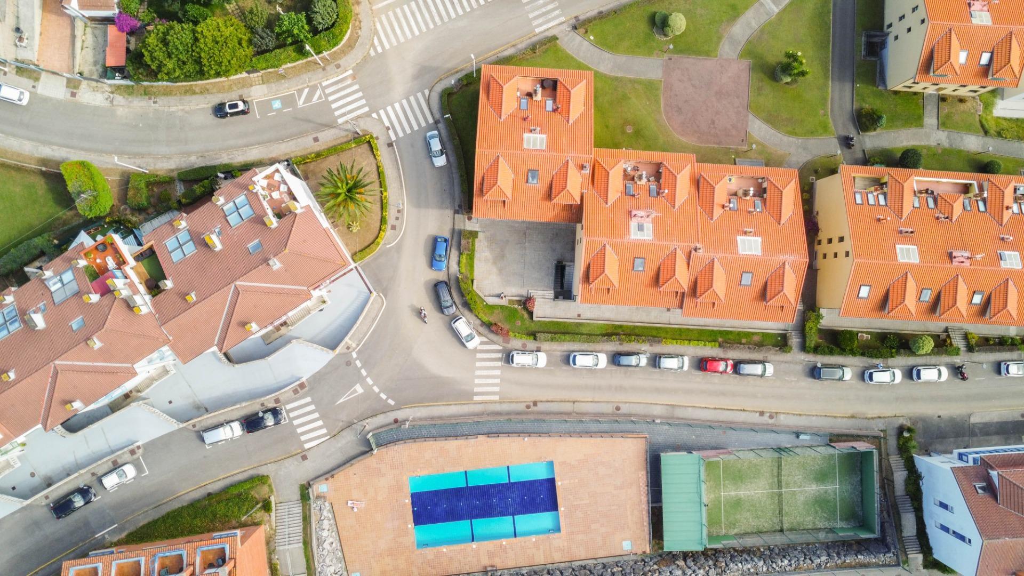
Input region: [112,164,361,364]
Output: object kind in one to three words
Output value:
house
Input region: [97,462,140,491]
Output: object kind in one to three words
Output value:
car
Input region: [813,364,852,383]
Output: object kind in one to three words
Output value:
car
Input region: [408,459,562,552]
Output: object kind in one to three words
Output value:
swimming pool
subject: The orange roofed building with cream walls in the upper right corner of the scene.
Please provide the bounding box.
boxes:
[879,0,1024,98]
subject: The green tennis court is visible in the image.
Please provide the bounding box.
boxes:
[700,439,887,546]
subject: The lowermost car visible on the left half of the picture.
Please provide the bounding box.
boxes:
[51,486,97,518]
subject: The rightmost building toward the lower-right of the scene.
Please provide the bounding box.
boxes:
[914,441,1024,576]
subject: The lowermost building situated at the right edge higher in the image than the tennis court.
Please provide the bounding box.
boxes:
[811,164,1024,327]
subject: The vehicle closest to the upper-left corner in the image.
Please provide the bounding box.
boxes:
[0,83,33,106]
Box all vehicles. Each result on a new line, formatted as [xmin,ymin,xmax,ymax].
[434,280,456,316]
[656,354,689,372]
[813,364,852,383]
[958,370,969,382]
[614,351,648,369]
[431,236,450,271]
[215,99,251,119]
[421,309,429,325]
[910,365,948,384]
[451,315,480,350]
[97,462,140,491]
[569,351,607,370]
[509,350,546,369]
[998,360,1024,376]
[699,356,733,375]
[51,486,97,518]
[847,133,855,150]
[863,367,902,386]
[201,420,245,445]
[426,130,447,167]
[736,360,773,378]
[0,83,33,106]
[243,408,287,433]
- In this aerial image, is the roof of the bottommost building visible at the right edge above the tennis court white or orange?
orange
